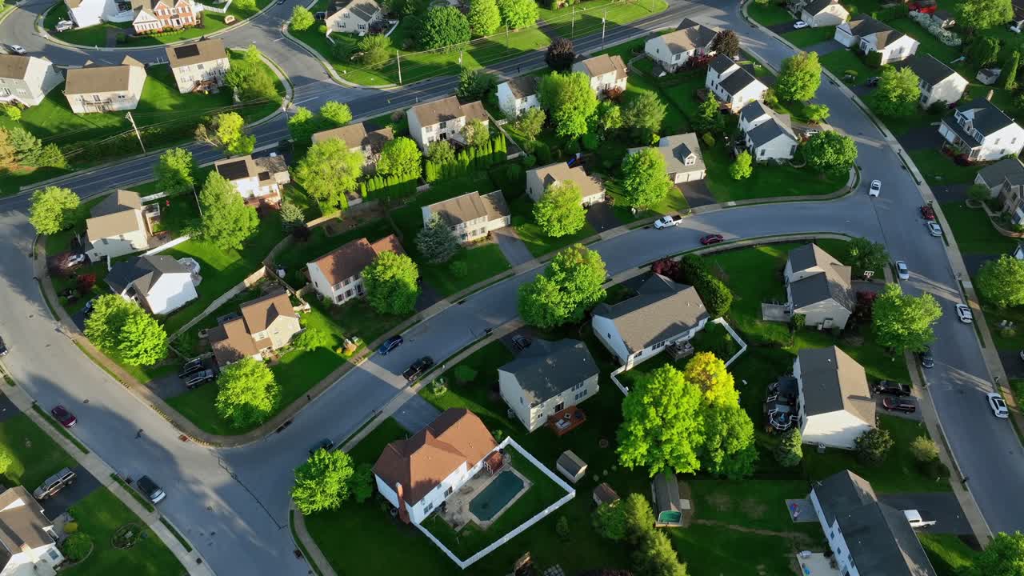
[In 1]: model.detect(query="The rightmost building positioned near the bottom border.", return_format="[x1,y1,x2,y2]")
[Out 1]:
[806,463,940,576]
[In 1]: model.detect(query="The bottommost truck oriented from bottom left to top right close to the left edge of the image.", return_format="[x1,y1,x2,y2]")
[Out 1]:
[32,462,80,499]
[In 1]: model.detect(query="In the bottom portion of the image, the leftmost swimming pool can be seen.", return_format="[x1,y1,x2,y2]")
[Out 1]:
[468,467,525,521]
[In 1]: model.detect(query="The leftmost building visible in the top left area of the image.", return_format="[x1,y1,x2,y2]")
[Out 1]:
[0,52,59,102]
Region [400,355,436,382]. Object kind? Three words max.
truck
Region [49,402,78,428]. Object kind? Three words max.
car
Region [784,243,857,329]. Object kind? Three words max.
house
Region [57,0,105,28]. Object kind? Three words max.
house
